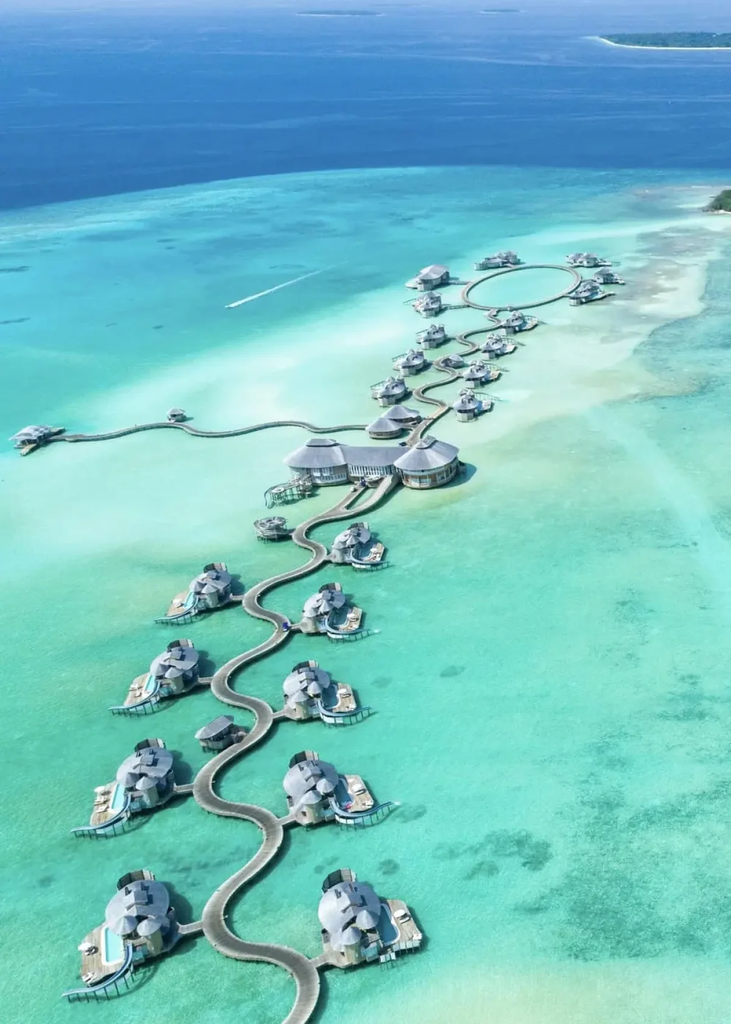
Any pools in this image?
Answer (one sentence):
Yes, the picture does show a pool.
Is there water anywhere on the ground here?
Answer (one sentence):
Yes, there's water in this view.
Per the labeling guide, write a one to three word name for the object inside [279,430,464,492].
building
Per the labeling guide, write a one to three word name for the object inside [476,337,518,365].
house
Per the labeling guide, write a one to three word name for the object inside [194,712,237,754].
building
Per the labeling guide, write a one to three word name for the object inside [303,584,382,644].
house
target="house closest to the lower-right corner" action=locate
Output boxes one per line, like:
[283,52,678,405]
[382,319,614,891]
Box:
[318,868,422,977]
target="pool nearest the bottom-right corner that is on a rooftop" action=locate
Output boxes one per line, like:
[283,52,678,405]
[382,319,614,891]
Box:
[375,902,401,950]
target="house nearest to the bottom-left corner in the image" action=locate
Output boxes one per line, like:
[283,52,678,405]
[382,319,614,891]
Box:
[62,864,178,999]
